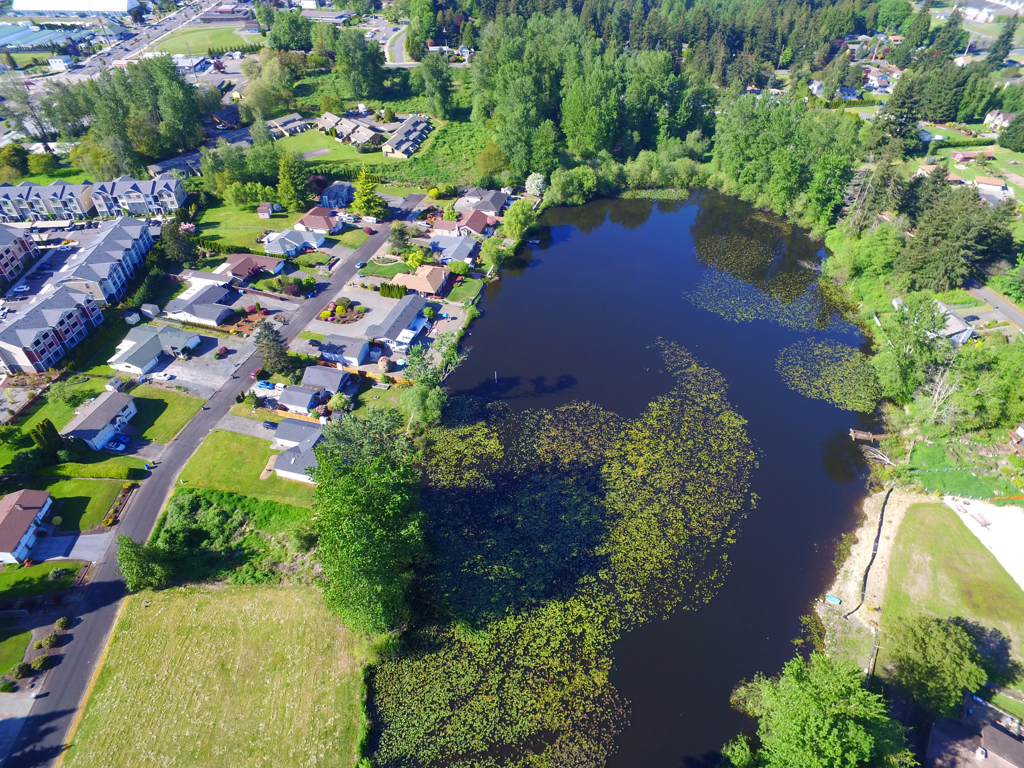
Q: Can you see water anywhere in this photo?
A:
Yes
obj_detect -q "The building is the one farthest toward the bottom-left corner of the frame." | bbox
[0,487,60,563]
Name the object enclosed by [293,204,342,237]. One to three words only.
house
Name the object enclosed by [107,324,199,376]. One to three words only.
building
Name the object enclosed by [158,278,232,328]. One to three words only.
house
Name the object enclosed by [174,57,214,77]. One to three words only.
building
